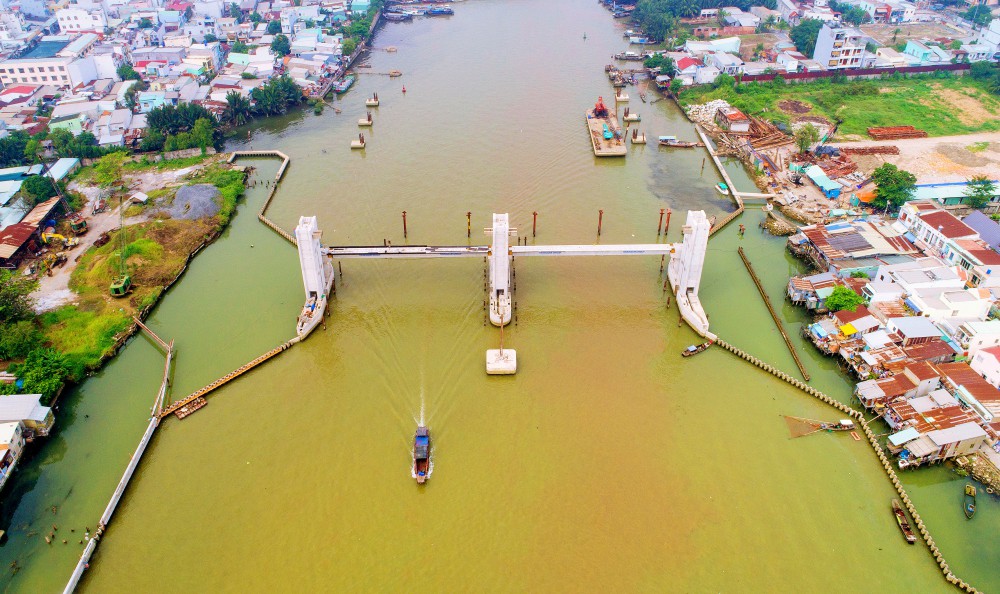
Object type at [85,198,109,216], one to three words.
vehicle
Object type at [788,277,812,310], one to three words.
house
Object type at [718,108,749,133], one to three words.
shed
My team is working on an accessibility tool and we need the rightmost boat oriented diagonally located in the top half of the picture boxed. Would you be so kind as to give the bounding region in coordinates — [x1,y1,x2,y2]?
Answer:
[716,182,729,195]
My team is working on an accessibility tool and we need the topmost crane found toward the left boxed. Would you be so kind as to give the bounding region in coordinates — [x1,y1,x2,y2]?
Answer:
[38,155,90,232]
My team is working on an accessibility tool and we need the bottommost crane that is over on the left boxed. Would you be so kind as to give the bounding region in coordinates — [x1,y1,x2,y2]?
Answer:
[99,196,137,296]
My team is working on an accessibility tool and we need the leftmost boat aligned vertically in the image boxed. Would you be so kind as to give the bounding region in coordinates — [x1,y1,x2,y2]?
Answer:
[411,423,432,484]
